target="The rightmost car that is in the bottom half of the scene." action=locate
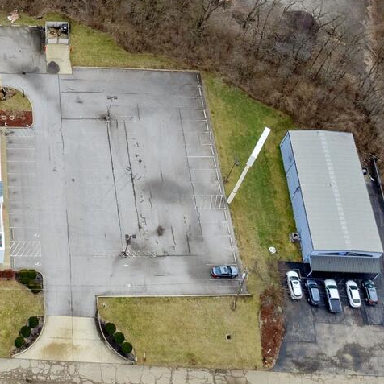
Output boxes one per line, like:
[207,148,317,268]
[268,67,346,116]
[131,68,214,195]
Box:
[360,278,380,305]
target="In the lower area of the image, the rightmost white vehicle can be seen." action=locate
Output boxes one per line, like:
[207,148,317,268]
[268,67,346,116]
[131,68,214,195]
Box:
[343,279,364,307]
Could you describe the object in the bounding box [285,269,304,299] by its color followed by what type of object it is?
white car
